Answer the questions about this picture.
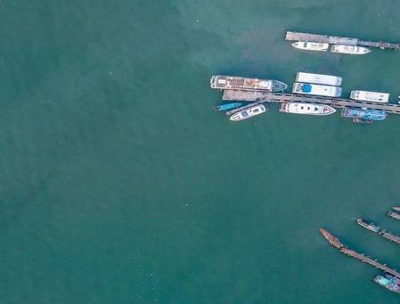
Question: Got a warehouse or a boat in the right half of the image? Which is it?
boat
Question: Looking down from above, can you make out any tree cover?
No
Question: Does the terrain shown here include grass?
No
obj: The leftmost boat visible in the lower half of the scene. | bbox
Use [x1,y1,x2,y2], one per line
[321,229,343,248]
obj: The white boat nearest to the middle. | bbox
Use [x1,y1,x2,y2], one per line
[230,104,267,120]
